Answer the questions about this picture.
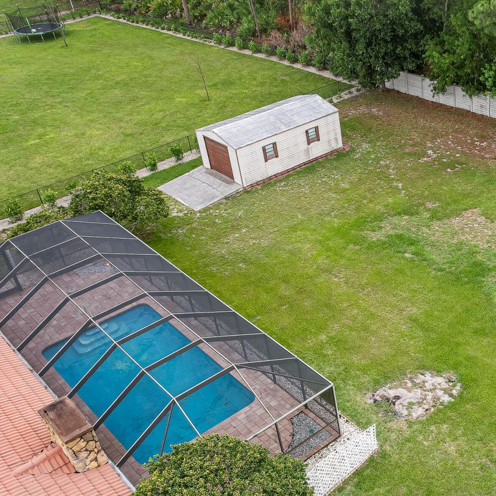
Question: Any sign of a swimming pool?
Yes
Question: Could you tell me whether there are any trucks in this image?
No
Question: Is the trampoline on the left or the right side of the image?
left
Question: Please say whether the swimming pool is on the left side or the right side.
left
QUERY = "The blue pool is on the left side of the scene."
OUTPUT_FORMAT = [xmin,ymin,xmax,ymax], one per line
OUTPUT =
[44,308,254,465]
